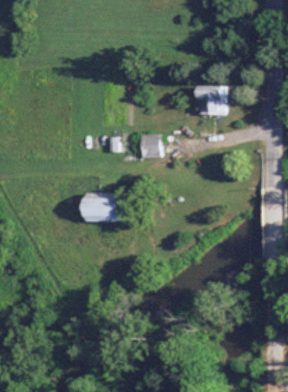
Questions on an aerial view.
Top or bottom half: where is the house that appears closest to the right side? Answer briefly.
top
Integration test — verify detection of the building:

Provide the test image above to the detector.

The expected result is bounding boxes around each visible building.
[193,86,230,120]
[140,134,164,158]
[78,192,120,222]
[110,137,122,152]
